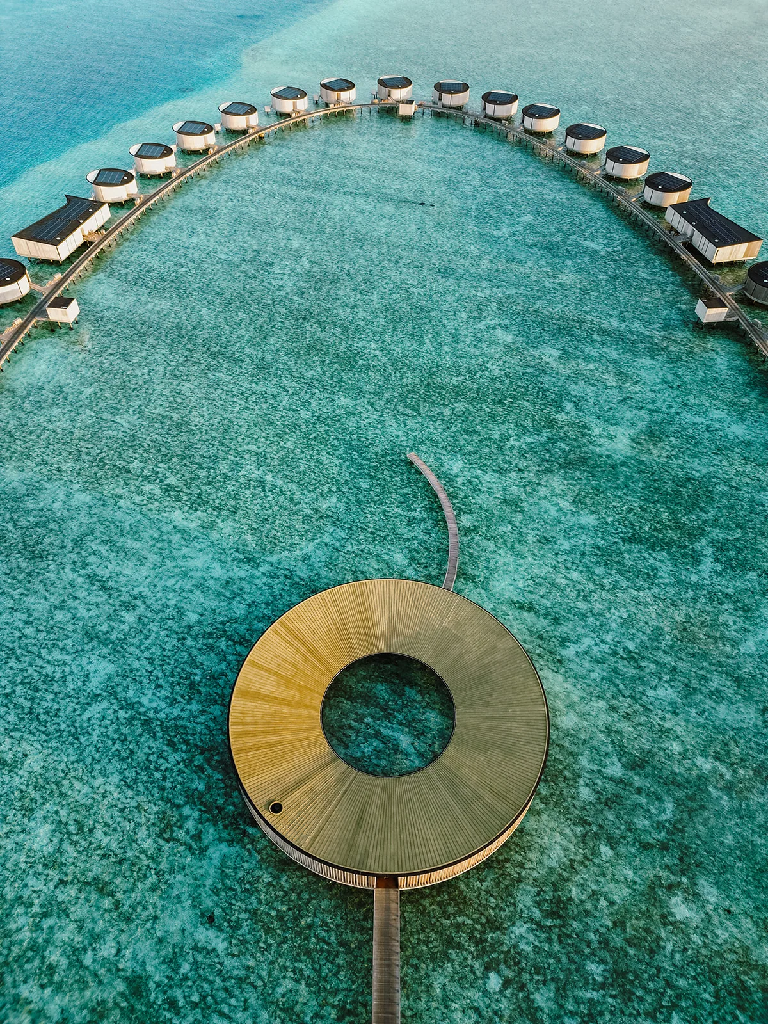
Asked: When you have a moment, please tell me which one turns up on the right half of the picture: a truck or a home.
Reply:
home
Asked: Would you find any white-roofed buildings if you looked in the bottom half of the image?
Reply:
No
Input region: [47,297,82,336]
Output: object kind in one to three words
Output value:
shed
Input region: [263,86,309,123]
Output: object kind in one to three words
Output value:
house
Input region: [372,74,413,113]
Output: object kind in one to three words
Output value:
house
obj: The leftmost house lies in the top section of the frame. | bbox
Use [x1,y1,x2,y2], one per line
[0,259,34,316]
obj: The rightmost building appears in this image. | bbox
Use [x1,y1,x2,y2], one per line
[740,258,768,318]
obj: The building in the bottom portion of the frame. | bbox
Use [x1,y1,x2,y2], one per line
[228,579,549,889]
